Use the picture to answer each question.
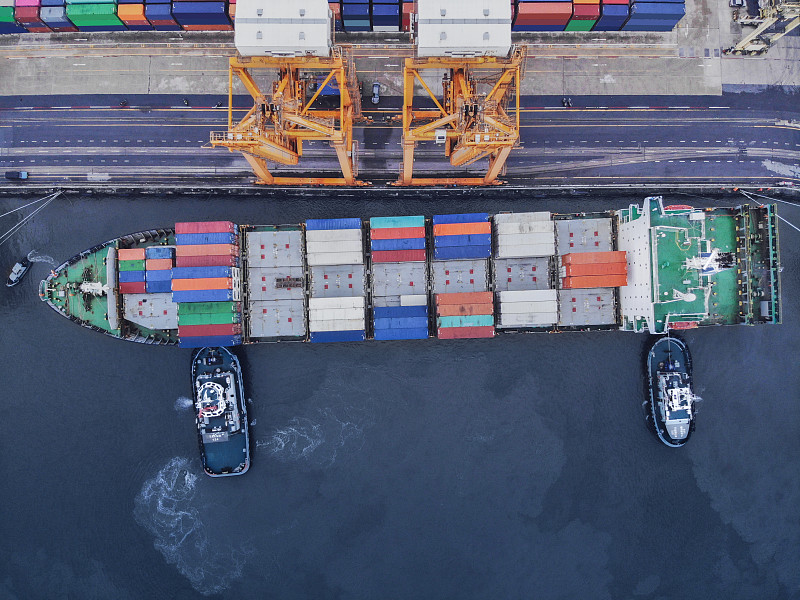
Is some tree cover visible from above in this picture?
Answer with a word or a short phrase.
No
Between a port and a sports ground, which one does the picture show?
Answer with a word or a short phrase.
port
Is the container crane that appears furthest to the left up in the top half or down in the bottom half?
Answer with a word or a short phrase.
top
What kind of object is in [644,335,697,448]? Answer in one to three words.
boat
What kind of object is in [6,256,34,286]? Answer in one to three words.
boat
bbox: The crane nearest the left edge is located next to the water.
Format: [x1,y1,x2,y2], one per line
[208,0,370,184]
